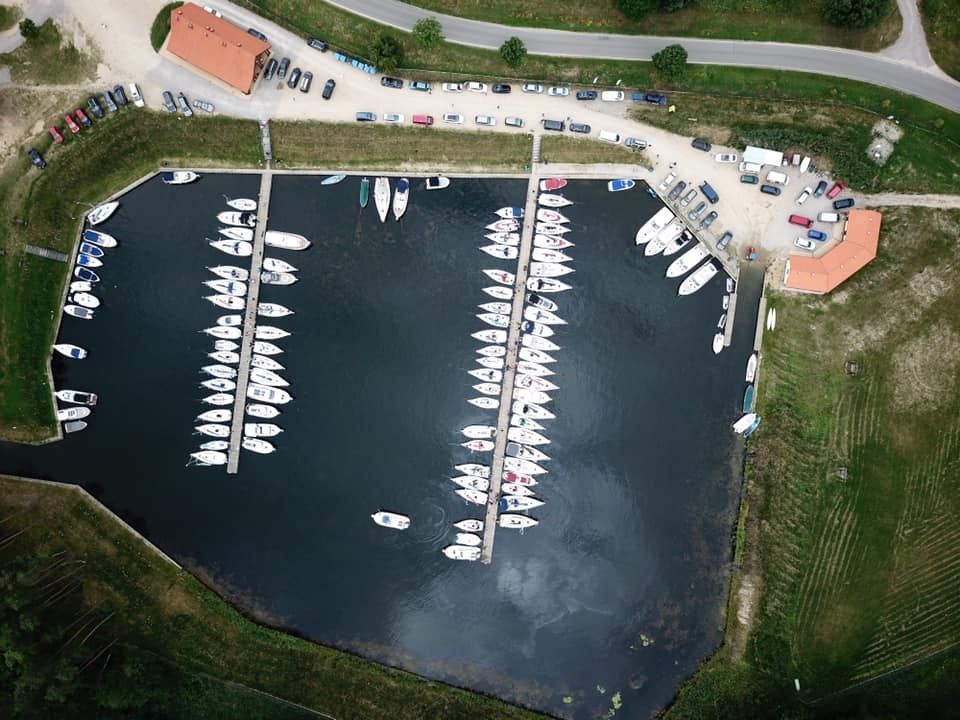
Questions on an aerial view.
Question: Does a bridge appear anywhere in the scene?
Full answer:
No, no bridge can be seen from above.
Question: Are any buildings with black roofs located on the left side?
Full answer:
No, no building with a black roof is visible on the left side.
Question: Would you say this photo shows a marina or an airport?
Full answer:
What you see here is a marina.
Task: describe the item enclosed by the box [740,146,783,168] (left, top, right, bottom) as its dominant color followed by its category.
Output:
white tent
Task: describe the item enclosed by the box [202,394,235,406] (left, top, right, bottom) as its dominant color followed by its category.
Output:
white boat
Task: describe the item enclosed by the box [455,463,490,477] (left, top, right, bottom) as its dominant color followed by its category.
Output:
white boat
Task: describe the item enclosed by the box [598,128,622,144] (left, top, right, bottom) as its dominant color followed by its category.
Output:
white vehicle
